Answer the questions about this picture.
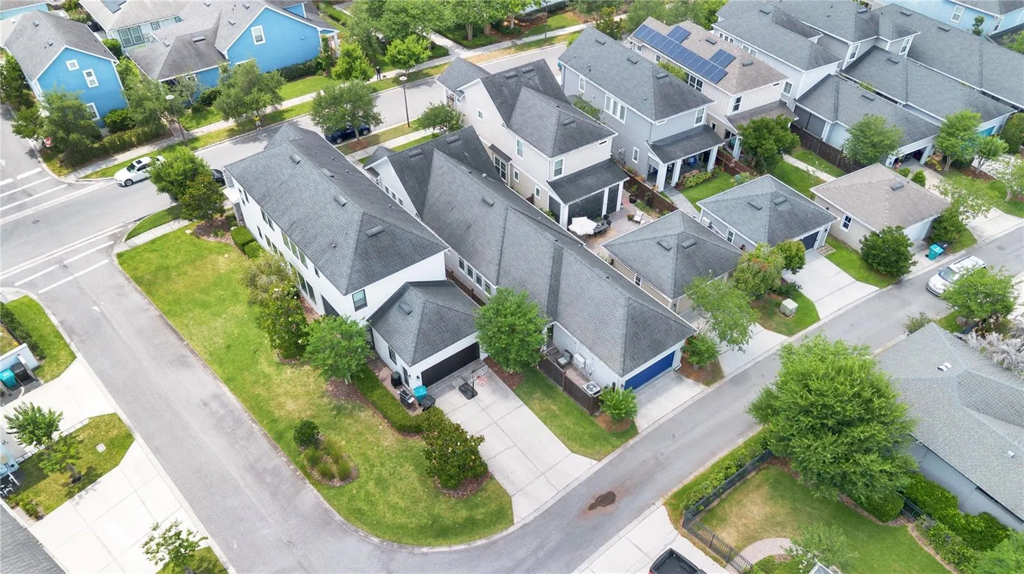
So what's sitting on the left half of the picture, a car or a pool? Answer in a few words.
car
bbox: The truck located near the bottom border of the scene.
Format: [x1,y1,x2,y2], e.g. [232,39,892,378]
[640,547,691,574]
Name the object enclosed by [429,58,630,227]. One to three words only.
house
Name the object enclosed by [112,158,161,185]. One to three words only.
car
